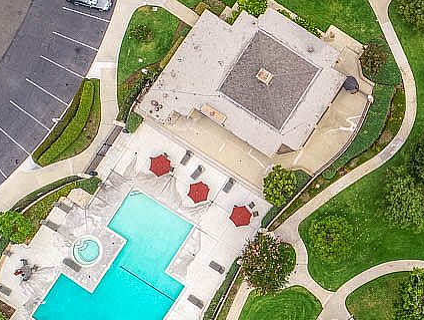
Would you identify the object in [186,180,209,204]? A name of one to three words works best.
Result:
umbrella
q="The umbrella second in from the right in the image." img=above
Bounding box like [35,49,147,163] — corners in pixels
[229,204,252,227]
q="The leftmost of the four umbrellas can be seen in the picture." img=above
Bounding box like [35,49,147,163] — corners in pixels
[149,153,173,176]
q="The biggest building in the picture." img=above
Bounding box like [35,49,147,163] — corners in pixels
[134,8,346,158]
